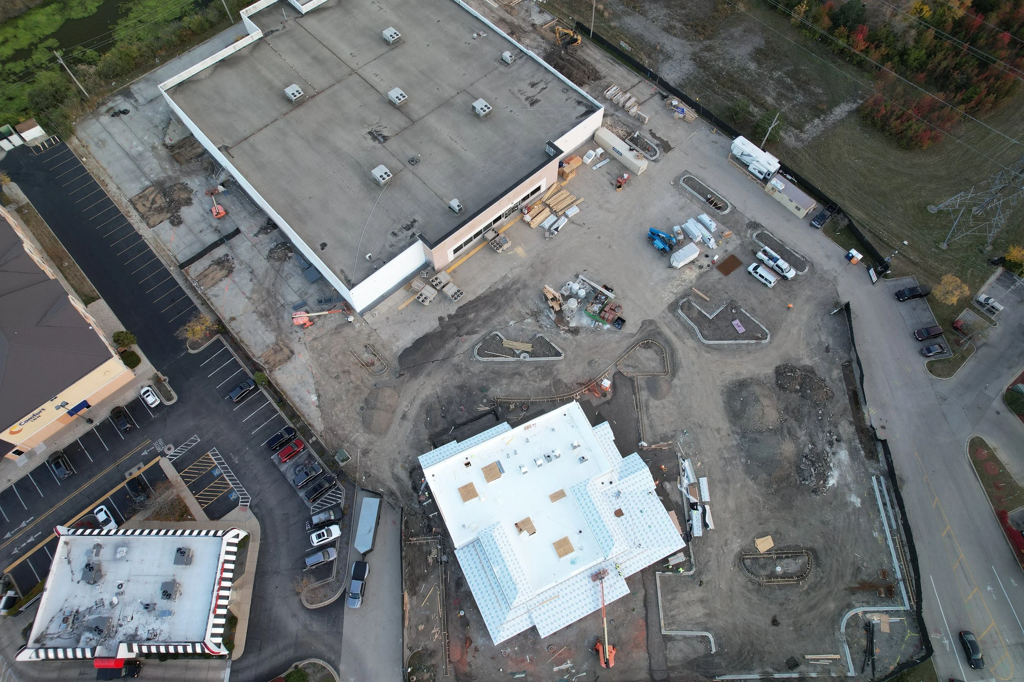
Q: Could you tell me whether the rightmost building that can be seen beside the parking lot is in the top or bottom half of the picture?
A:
bottom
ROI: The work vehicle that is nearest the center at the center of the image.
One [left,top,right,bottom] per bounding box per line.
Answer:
[541,285,566,313]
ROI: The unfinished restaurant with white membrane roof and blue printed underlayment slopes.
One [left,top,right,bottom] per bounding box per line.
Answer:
[418,400,686,646]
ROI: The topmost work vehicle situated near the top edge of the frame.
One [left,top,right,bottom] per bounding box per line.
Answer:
[552,19,589,47]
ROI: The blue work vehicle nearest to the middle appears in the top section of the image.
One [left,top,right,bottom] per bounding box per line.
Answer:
[646,232,679,255]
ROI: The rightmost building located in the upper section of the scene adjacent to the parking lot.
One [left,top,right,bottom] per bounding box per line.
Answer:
[159,0,604,311]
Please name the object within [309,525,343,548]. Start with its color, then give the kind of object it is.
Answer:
white car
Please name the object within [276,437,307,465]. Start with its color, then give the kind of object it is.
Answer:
red car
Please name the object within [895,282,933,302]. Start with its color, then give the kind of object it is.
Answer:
black vehicle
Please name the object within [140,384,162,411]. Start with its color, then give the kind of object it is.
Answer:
white car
